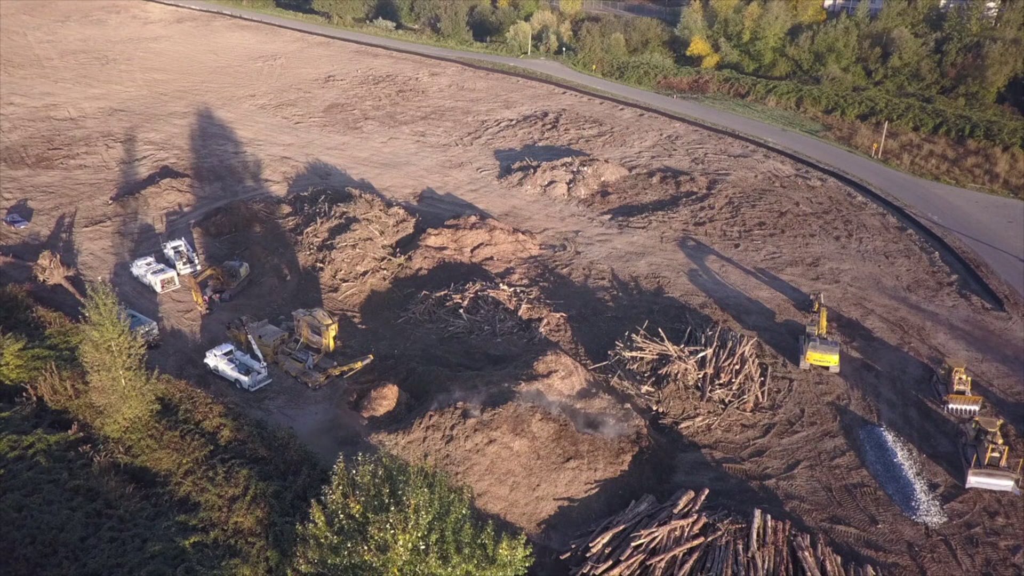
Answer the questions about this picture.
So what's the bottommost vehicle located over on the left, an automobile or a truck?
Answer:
truck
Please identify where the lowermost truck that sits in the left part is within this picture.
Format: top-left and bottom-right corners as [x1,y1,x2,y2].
[202,317,275,395]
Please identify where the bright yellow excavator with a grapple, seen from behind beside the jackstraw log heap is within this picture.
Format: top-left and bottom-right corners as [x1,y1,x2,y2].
[799,278,846,372]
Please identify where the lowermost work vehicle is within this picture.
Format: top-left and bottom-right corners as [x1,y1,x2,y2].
[965,403,1024,489]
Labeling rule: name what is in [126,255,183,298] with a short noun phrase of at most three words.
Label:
truck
